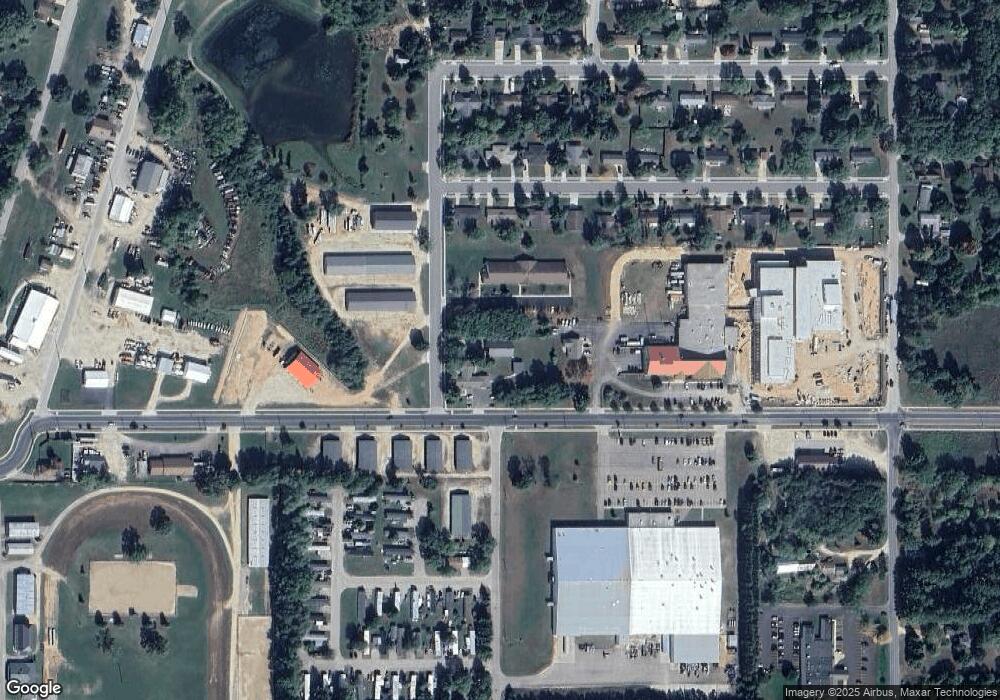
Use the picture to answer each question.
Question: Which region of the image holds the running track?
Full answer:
The running track is located in the bottom left region of the scene.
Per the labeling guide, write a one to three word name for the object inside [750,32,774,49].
house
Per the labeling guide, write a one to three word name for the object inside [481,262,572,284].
building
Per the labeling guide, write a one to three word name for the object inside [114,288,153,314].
barn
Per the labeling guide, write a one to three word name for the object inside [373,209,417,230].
shed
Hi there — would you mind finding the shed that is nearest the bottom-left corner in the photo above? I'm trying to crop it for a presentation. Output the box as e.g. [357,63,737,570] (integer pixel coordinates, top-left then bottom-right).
[8,662,36,684]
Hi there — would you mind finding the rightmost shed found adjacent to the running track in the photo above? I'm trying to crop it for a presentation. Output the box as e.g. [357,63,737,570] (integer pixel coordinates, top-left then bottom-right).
[248,498,270,567]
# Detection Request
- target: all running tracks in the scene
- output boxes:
[36,486,236,700]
